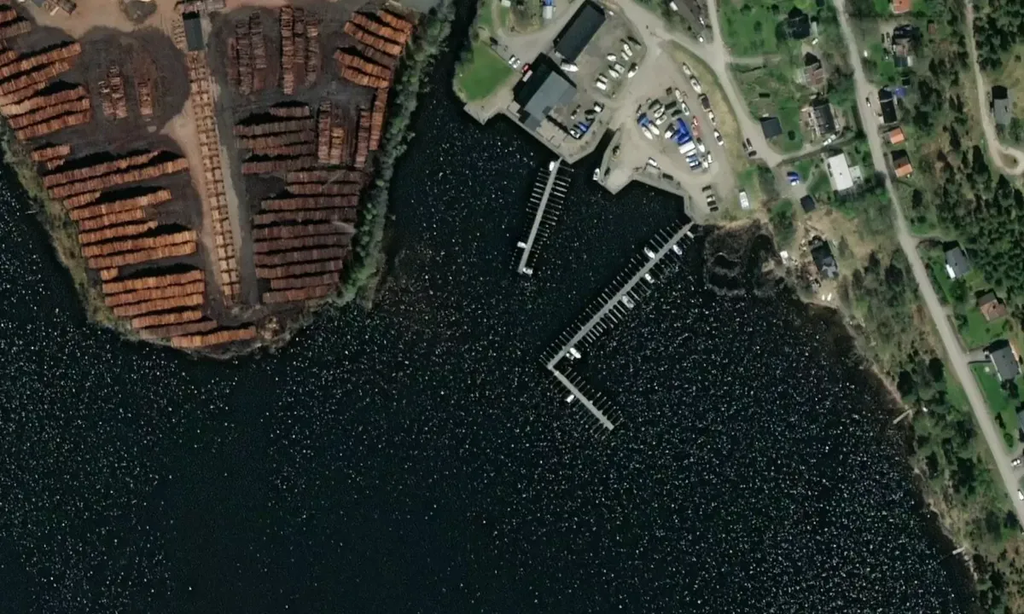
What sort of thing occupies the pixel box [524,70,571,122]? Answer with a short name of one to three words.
building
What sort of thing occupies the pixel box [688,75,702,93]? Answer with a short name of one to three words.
boat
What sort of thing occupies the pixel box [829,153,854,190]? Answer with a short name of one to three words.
house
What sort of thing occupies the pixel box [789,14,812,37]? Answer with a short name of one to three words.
house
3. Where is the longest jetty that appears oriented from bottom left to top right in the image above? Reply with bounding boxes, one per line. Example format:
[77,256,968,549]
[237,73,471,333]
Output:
[547,215,695,369]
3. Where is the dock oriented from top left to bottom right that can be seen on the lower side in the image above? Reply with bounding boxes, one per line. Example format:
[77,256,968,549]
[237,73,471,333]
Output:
[547,363,615,431]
